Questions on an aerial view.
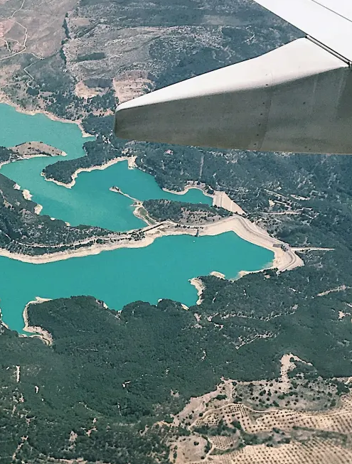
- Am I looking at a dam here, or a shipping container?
dam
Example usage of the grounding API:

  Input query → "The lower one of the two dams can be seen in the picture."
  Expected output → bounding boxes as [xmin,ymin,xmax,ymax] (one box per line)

[212,213,303,273]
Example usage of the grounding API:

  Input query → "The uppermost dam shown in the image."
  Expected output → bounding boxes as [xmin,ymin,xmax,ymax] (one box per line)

[212,190,244,215]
